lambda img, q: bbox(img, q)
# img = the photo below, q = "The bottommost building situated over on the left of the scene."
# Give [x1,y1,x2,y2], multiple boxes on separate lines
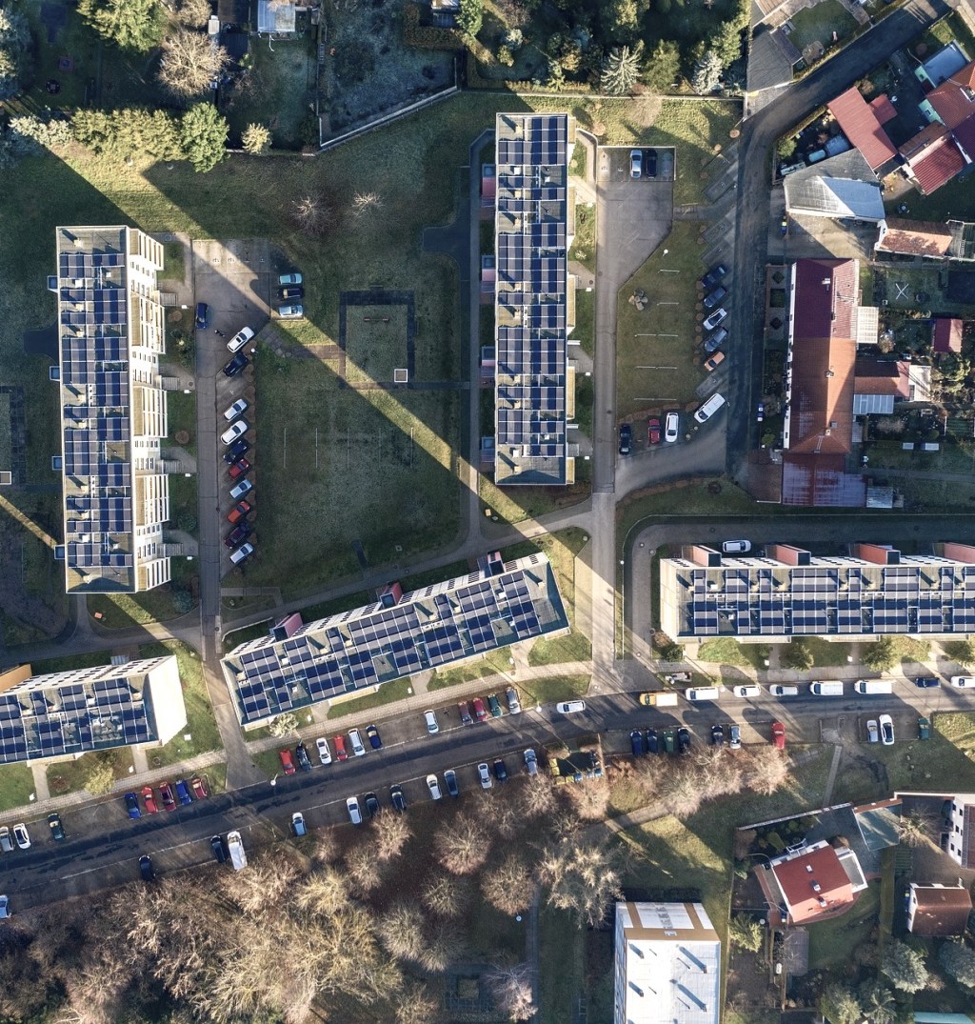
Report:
[0,655,184,772]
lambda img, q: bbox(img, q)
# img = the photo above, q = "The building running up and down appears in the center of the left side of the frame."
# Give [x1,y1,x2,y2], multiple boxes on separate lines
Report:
[46,224,186,593]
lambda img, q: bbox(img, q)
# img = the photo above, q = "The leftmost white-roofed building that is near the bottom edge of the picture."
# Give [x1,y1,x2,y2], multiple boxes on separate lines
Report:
[616,903,721,1024]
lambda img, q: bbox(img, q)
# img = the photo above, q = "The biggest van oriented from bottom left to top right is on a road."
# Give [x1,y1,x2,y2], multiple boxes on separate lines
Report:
[691,391,728,426]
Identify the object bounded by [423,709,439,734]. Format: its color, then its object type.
white car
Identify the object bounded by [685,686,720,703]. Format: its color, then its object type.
white vehicle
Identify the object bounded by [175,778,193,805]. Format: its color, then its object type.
blue car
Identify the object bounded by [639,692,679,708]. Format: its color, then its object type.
white vehicle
